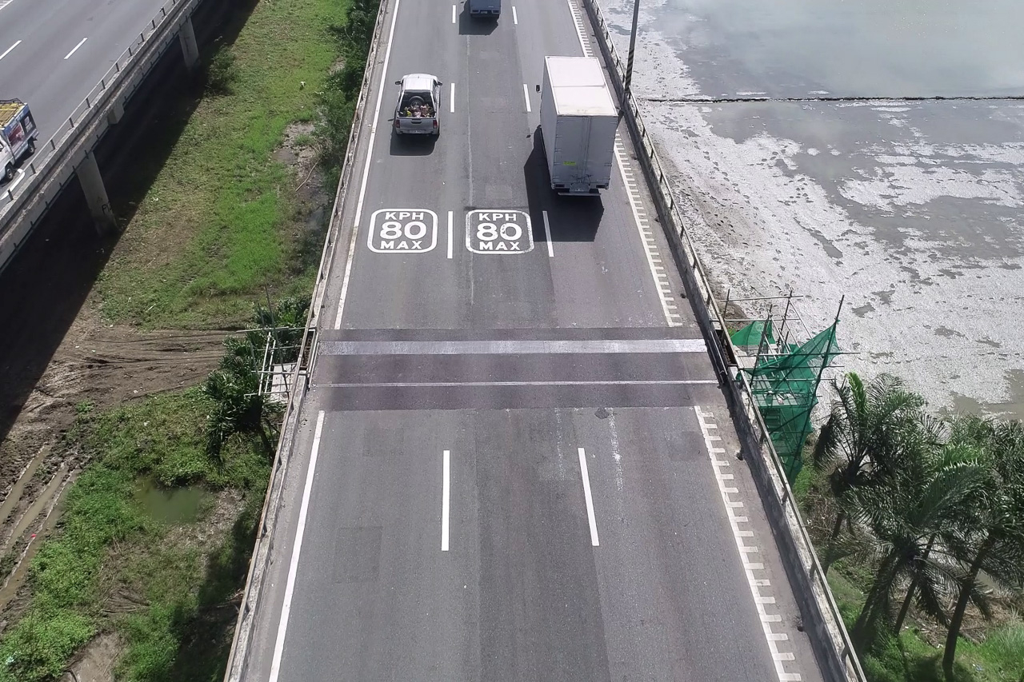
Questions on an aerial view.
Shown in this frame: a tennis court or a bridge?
bridge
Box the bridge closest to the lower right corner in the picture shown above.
[219,0,866,682]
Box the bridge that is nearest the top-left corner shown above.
[0,0,214,283]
